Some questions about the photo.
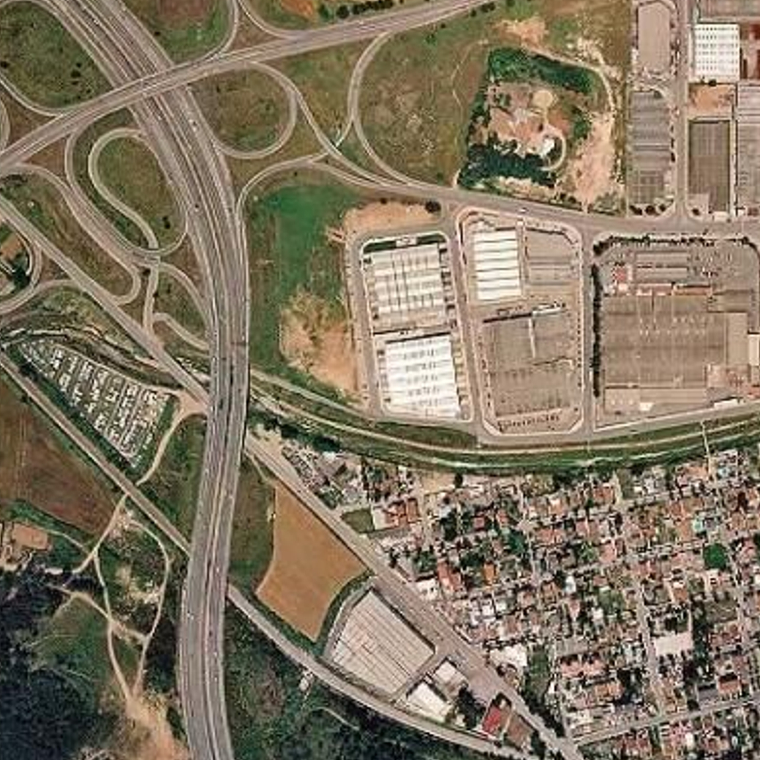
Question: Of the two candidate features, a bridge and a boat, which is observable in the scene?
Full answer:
This aerial view contains a bridge.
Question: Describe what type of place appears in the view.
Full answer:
What you see here is a residential area.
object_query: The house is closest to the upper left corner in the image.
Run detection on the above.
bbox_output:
[0,235,23,261]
